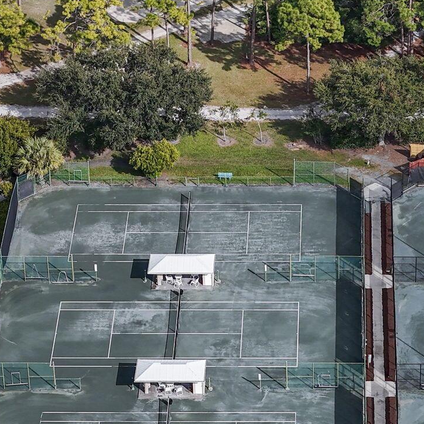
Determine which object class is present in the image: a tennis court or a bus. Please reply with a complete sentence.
Of the two, only a tennis court appears.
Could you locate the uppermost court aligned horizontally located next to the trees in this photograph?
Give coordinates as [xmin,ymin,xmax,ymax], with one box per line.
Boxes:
[0,185,365,283]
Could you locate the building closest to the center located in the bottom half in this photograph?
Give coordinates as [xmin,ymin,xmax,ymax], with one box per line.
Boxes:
[148,253,215,289]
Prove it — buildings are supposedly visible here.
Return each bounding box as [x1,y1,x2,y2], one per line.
[148,253,215,289]
[134,359,207,398]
